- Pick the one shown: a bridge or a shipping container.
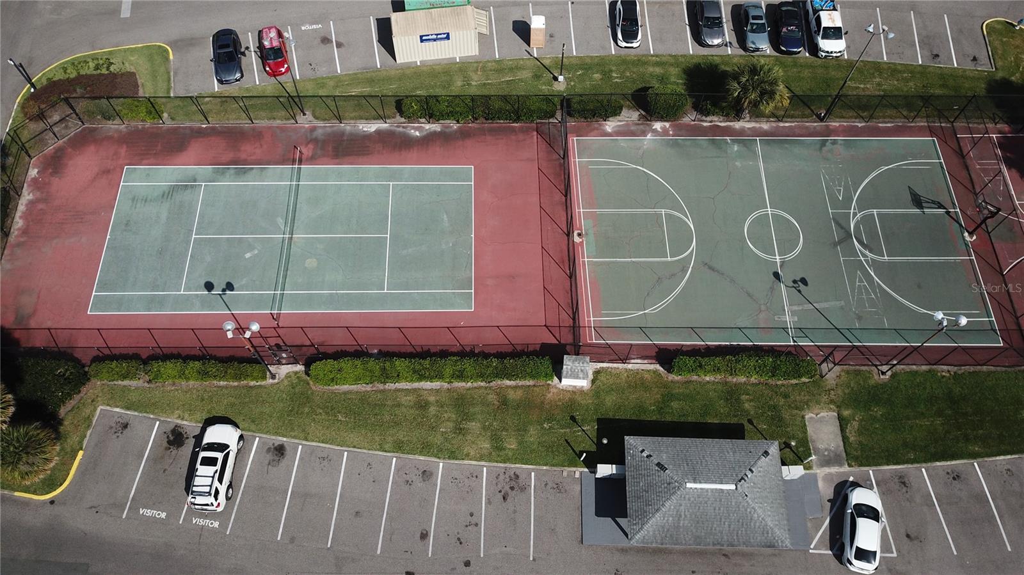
shipping container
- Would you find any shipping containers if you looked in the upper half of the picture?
Yes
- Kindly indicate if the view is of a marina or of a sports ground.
sports ground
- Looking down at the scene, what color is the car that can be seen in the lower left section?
white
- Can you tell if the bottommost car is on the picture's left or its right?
right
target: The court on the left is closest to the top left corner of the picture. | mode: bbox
[0,123,574,367]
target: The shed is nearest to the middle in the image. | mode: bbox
[563,352,591,386]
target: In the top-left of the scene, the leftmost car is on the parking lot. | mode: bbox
[210,29,243,86]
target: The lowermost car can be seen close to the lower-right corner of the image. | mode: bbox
[838,485,884,575]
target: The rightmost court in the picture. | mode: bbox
[953,123,1024,333]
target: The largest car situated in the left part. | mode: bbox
[190,422,241,513]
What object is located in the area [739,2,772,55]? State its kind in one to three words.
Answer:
car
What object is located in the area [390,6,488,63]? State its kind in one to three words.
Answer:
shipping container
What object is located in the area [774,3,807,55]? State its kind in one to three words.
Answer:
car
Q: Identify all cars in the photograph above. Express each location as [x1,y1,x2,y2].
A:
[693,0,726,50]
[838,485,884,575]
[774,3,807,55]
[258,26,287,79]
[190,422,241,513]
[210,29,243,86]
[612,0,643,49]
[739,2,772,55]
